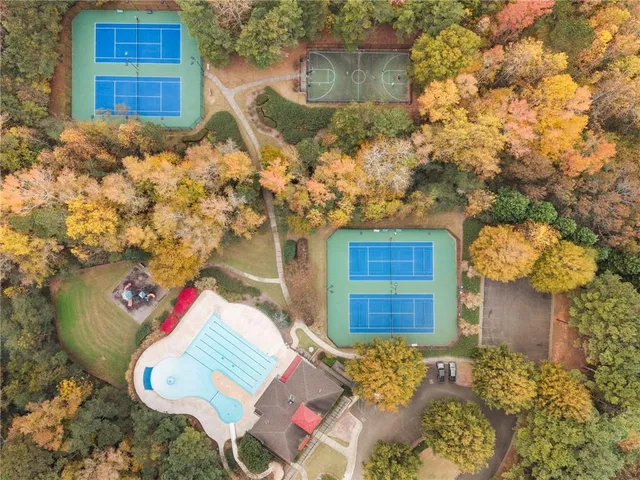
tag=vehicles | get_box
[436,361,445,382]
[448,361,457,382]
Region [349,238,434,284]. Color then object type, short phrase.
blue tennis court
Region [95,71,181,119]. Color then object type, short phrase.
blue tennis court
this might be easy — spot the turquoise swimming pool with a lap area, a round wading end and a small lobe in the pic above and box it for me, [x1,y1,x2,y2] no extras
[142,309,282,422]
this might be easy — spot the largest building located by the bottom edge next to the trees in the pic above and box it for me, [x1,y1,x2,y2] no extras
[249,354,344,462]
